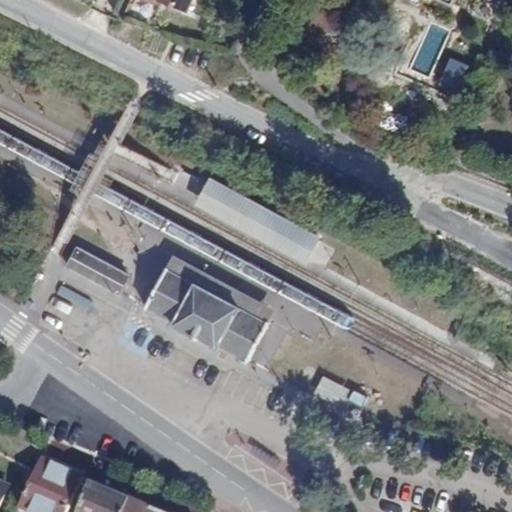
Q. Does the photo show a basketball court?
No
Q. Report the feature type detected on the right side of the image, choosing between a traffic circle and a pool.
pool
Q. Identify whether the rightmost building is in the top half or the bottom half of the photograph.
top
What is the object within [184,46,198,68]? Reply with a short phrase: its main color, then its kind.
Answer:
gray car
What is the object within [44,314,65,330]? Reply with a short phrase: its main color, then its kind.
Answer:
white car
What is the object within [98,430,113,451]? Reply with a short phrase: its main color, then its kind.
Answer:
red car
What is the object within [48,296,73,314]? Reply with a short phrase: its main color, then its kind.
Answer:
white vehicle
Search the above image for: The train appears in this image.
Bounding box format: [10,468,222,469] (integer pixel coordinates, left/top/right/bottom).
[0,130,354,328]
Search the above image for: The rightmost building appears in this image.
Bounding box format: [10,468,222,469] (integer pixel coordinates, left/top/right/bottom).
[440,58,469,83]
